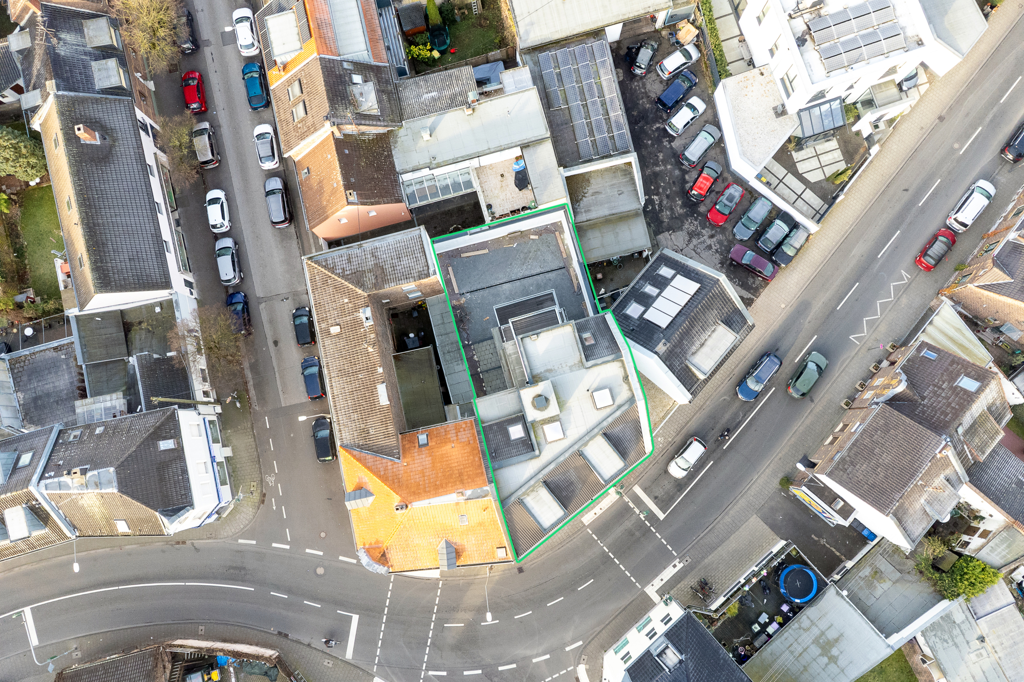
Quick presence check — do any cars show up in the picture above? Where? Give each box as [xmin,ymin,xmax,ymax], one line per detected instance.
[677,123,722,172]
[225,291,253,337]
[240,61,270,113]
[308,417,337,464]
[655,42,698,84]
[787,350,825,400]
[662,95,707,140]
[262,176,293,230]
[946,178,993,235]
[627,38,658,80]
[181,71,210,116]
[300,355,328,402]
[194,121,222,171]
[231,8,259,58]
[290,306,317,348]
[253,123,281,172]
[204,189,233,235]
[706,180,746,228]
[654,69,699,116]
[732,196,775,243]
[727,244,782,285]
[771,226,811,269]
[737,349,782,400]
[669,435,708,480]
[997,118,1024,165]
[754,213,797,257]
[913,228,954,275]
[684,161,723,206]
[898,61,928,94]
[214,237,243,287]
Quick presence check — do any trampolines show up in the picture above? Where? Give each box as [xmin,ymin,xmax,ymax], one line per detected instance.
[780,564,830,610]
[425,12,451,48]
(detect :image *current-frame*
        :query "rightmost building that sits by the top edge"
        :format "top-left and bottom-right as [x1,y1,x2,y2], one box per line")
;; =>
[714,0,989,182]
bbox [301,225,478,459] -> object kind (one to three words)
building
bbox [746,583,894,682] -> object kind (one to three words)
building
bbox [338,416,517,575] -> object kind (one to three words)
house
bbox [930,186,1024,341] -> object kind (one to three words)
house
